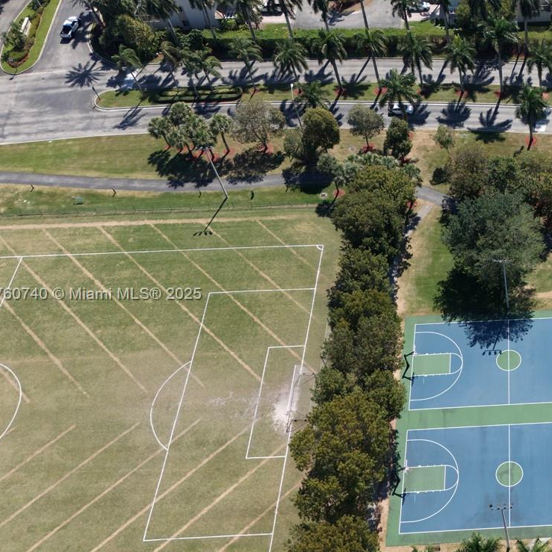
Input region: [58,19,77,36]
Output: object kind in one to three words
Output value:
vehicle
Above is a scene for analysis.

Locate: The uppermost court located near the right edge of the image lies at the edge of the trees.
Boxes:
[397,308,552,421]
